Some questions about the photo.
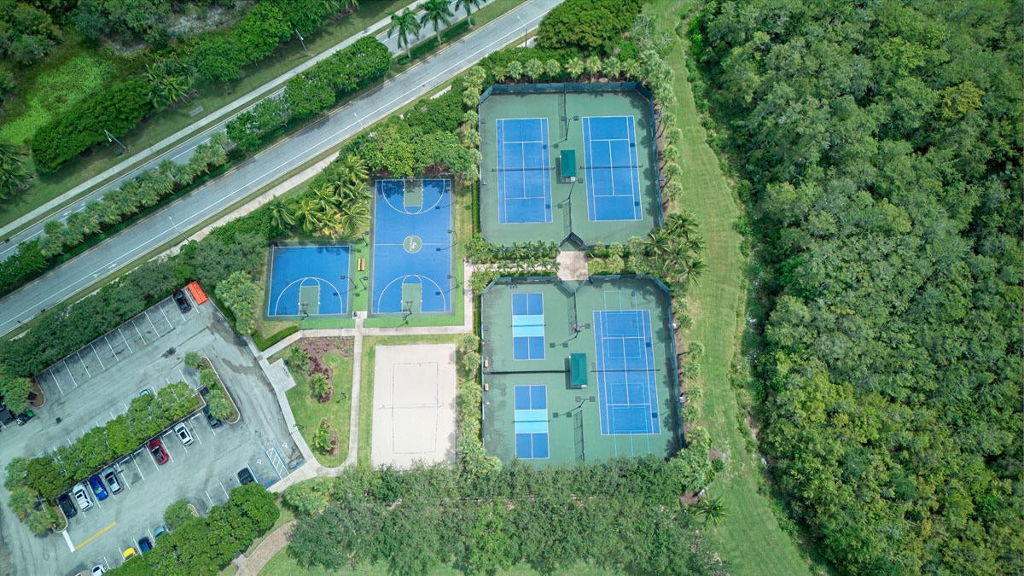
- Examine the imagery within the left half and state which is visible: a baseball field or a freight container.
freight container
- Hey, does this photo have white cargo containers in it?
No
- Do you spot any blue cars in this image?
Yes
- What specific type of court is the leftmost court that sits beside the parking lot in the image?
basketball court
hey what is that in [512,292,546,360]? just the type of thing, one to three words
sports court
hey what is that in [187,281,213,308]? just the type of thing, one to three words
shipping container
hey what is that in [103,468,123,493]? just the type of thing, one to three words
car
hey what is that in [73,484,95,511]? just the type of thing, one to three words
car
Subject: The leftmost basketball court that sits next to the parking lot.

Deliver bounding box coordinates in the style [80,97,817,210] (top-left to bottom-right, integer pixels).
[263,242,355,321]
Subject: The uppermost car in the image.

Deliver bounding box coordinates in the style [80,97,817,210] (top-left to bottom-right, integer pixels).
[173,291,192,314]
